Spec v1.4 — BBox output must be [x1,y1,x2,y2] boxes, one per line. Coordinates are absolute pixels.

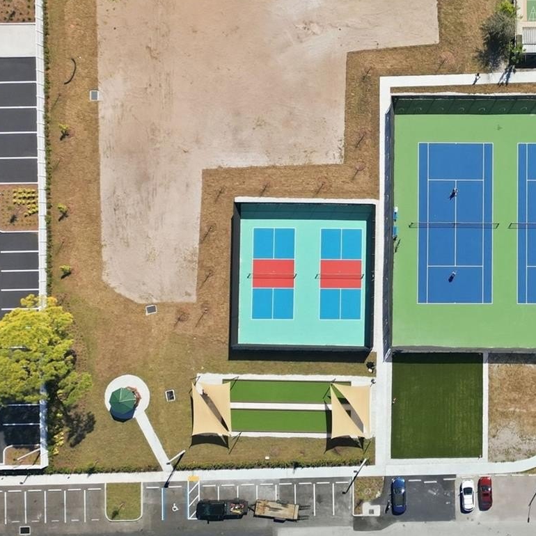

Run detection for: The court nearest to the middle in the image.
[236,199,377,349]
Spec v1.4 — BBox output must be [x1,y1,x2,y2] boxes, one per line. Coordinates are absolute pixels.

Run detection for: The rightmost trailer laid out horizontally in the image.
[248,499,308,519]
